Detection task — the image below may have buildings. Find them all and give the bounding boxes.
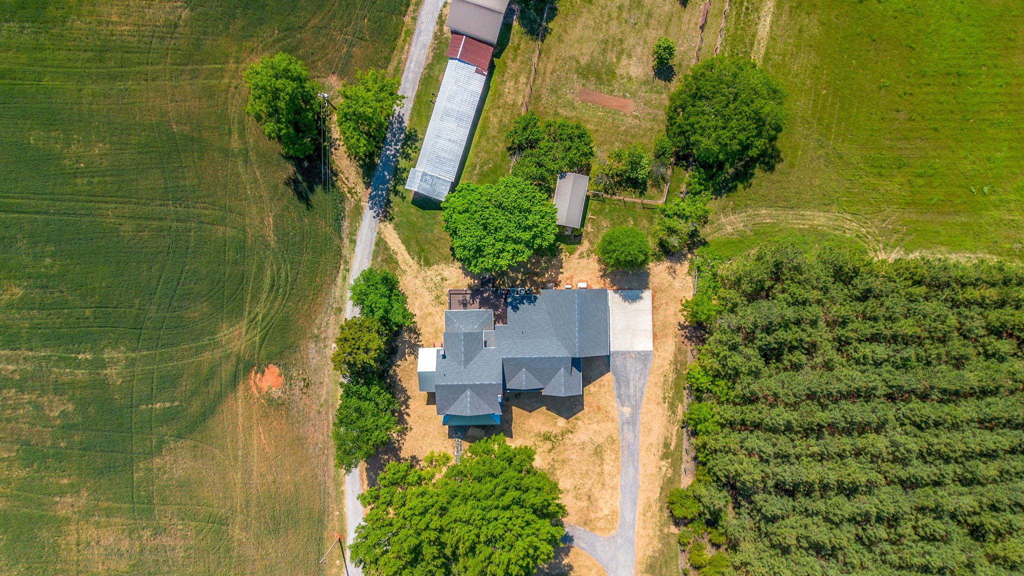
[447,0,510,45]
[416,59,487,182]
[418,289,610,426]
[553,172,589,238]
